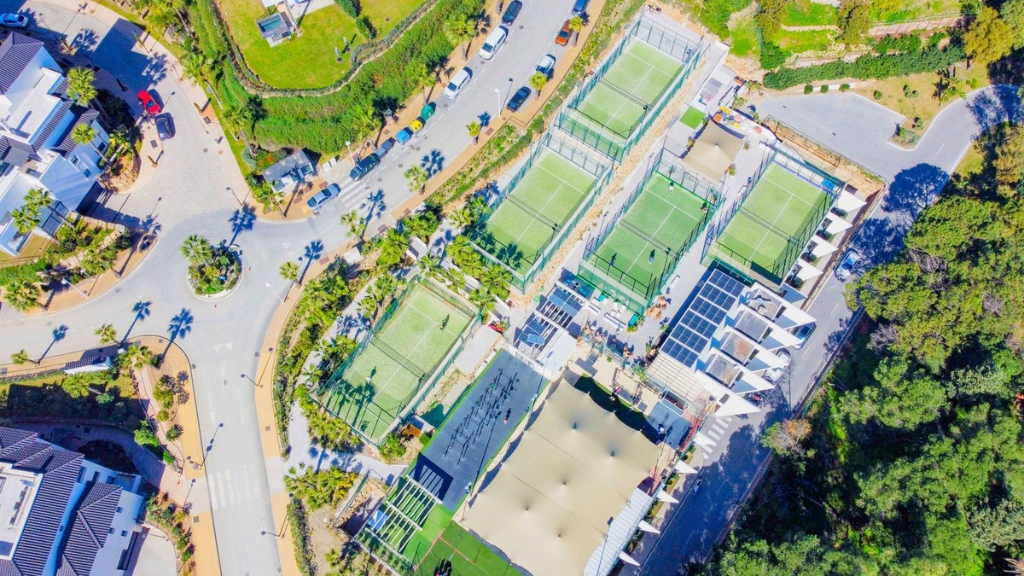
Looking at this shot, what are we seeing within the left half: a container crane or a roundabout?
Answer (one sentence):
What appears within the left half is a roundabout.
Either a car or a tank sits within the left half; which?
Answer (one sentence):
You can see a car within the left half.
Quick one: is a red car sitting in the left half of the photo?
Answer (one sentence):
Yes, a red car is visible in the left half of the photo.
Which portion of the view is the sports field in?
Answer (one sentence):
The sports field appears toward the bottom of the photo.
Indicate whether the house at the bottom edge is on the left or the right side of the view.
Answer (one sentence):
You can find the house at the bottom edge on the left side of the picture.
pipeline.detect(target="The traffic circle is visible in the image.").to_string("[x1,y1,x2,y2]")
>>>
[185,247,243,299]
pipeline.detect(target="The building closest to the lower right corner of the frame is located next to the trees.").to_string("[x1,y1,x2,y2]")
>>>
[656,268,815,418]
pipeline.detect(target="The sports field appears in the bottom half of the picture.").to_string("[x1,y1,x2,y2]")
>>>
[415,519,531,576]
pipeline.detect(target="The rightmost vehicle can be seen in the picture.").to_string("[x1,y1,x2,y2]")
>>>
[835,250,863,282]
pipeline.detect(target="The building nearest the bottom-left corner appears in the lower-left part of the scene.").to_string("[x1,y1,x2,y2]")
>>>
[0,426,153,576]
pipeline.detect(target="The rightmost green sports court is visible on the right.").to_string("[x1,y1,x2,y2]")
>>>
[701,144,851,298]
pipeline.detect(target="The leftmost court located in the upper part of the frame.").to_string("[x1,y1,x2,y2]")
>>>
[462,131,611,294]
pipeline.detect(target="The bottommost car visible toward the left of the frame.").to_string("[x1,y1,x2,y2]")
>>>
[307,185,342,209]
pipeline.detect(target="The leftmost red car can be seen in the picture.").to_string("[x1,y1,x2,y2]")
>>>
[137,91,164,113]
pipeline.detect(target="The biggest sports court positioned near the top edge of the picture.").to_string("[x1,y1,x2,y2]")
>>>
[563,18,700,163]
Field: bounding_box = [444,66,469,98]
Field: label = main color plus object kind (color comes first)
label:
white vehicle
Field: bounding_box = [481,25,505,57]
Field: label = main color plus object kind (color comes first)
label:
white vehicle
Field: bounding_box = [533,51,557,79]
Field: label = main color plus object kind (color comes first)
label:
white car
